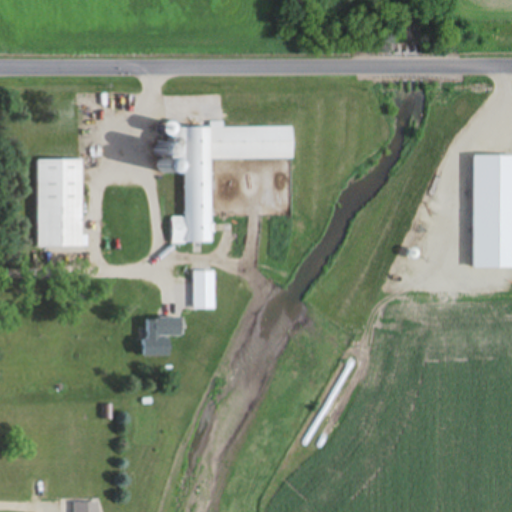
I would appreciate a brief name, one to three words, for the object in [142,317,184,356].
house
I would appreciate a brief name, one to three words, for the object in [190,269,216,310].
shed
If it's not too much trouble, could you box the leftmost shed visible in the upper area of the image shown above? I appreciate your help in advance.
[35,158,88,247]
